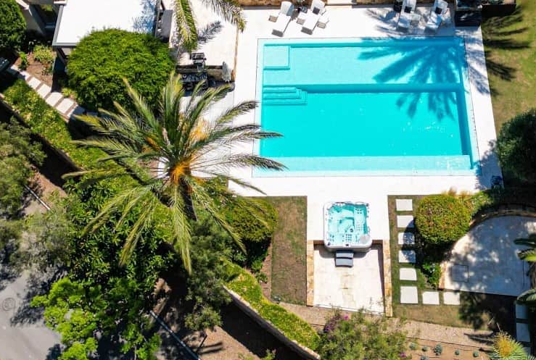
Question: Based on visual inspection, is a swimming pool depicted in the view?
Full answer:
Yes, there's a swimming pool down there.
